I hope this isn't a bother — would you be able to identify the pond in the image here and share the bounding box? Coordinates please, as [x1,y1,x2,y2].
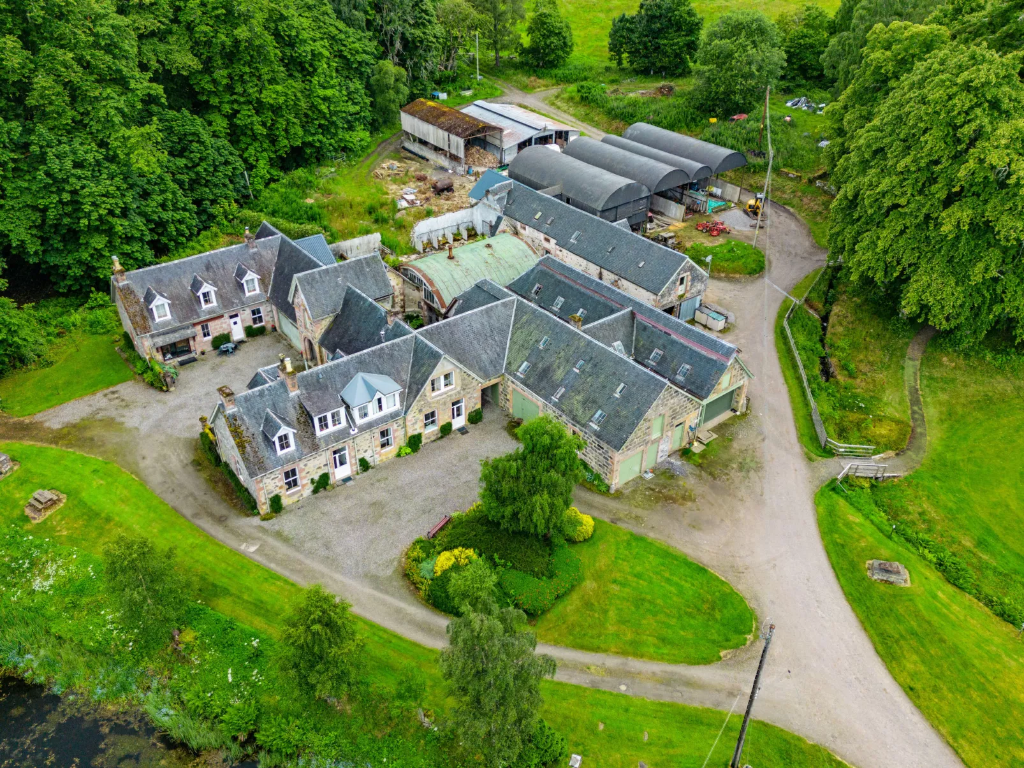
[0,671,269,768]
